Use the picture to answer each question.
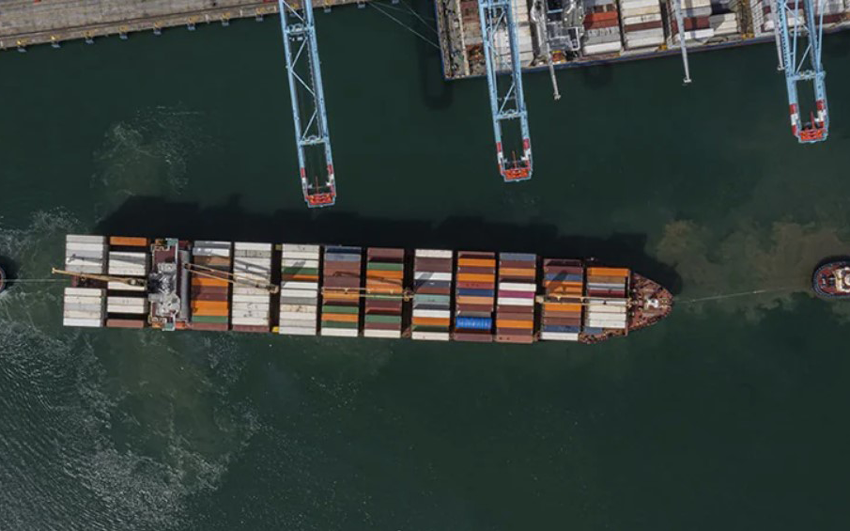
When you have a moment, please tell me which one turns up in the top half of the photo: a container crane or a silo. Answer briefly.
container crane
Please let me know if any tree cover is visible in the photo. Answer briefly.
No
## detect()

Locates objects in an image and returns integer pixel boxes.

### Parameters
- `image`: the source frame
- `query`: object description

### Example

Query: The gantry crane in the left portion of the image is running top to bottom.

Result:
[275,0,340,209]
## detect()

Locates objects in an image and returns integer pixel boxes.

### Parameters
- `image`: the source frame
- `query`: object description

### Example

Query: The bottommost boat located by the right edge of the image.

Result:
[812,260,850,300]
